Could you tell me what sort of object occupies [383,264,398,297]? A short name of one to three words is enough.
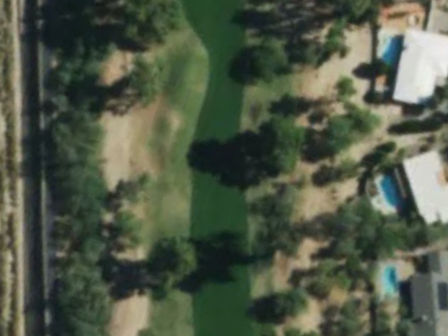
swimming pool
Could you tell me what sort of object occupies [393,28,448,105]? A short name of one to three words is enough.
house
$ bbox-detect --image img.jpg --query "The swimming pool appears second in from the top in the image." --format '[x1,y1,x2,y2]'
[379,174,402,210]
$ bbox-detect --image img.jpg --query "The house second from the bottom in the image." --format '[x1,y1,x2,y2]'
[404,151,448,224]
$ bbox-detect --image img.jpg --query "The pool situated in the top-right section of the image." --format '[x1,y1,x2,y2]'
[378,34,404,70]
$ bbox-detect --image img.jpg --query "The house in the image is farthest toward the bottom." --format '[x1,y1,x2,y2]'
[409,253,448,336]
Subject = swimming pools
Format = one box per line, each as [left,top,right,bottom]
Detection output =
[378,34,404,70]
[379,174,402,210]
[383,264,398,297]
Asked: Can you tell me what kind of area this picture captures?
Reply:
golf course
